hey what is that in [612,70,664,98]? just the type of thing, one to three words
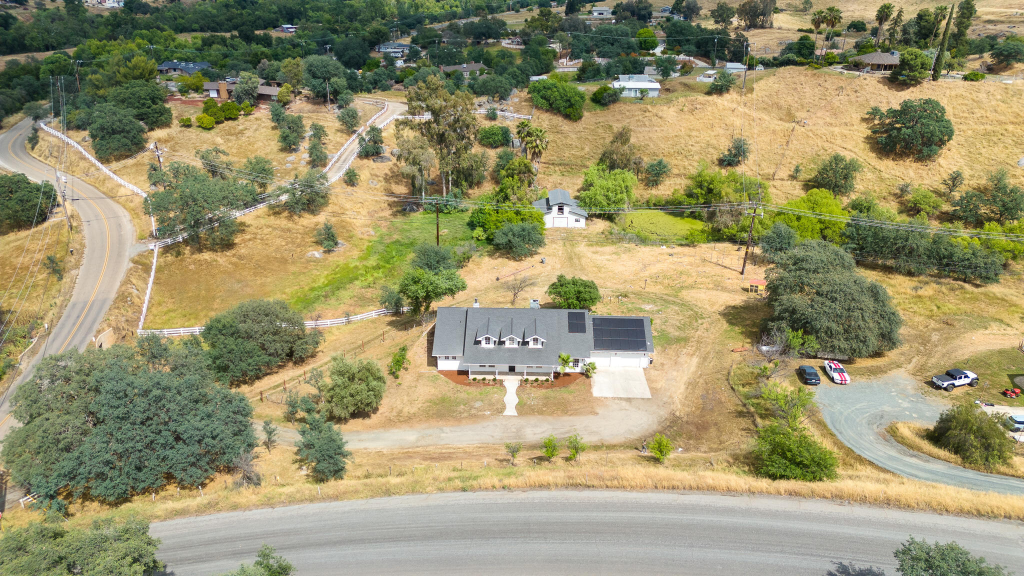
house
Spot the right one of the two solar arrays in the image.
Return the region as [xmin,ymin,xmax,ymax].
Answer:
[594,320,649,352]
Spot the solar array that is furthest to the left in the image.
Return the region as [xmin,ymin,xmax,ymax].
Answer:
[567,313,585,334]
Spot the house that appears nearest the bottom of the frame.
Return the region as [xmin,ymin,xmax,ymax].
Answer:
[431,292,655,385]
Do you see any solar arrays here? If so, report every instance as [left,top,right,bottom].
[594,320,649,352]
[567,313,585,334]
